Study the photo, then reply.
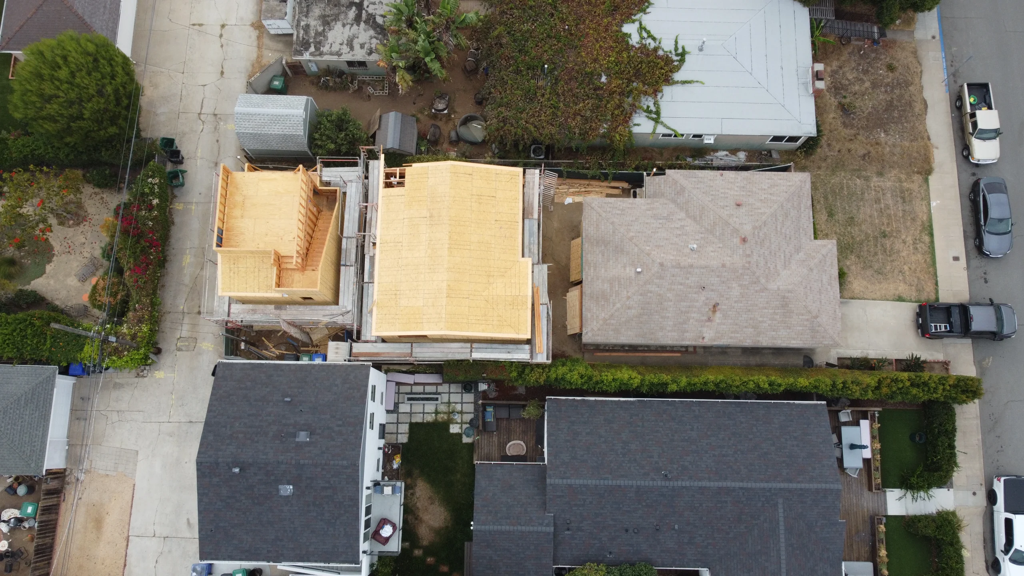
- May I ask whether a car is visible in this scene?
Yes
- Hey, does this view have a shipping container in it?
No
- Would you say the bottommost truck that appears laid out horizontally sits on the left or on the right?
right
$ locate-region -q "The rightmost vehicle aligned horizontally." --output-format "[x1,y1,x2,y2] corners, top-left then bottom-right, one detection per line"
[911,298,1019,346]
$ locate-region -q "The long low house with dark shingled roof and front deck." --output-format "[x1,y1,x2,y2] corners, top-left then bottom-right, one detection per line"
[540,396,846,576]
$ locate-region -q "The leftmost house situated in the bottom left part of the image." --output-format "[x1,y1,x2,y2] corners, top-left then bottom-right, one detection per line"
[0,363,76,477]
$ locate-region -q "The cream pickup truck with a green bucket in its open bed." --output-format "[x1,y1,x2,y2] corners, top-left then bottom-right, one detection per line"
[955,85,1004,165]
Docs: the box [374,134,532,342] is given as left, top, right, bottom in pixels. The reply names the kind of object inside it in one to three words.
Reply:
house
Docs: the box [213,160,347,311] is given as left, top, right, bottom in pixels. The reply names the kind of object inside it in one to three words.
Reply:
building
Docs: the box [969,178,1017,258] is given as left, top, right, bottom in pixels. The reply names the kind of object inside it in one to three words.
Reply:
car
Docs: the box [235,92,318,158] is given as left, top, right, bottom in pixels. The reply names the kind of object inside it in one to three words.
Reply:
shed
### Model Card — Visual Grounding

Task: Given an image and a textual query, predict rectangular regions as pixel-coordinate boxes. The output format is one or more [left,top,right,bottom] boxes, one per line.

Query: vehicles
[988,471,1024,576]
[969,178,1017,258]
[911,298,1019,346]
[955,85,1004,165]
